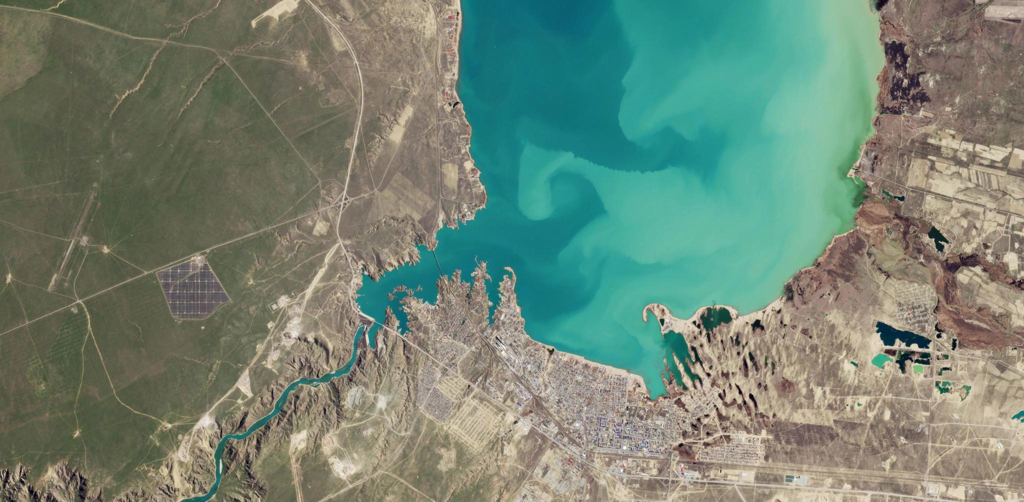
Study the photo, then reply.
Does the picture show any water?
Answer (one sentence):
Yes, water shows up in the scene.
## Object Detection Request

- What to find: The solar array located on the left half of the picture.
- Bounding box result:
[157,261,230,318]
